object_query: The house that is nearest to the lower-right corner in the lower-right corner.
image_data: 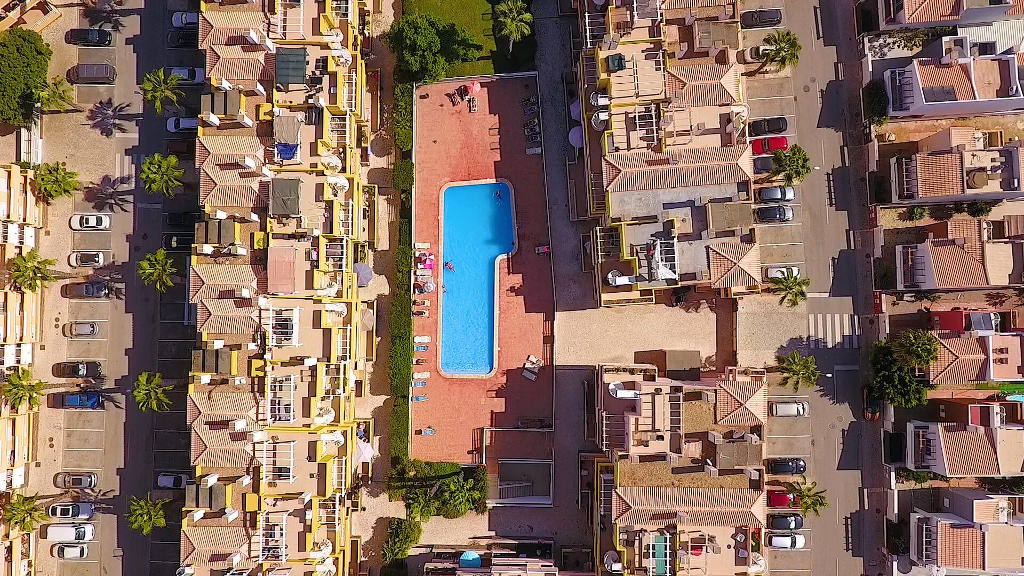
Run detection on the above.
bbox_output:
[896,485,1024,576]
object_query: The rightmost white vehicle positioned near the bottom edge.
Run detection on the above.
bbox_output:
[766,531,804,552]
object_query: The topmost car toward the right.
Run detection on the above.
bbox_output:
[740,8,782,29]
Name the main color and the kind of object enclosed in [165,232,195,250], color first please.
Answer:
black car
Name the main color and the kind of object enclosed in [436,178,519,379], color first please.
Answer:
blue swimming pool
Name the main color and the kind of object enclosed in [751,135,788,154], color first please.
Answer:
red car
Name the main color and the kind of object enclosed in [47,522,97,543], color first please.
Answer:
white vehicle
